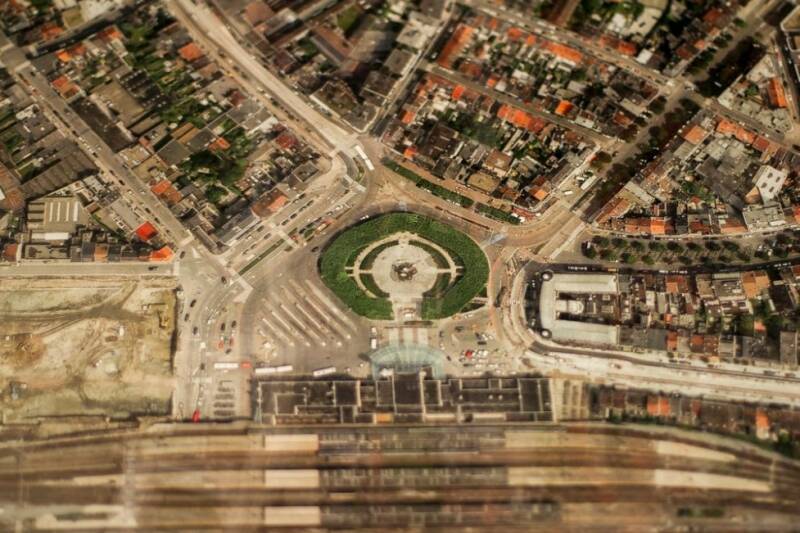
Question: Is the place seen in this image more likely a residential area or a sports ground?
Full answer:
This image shows a residential area.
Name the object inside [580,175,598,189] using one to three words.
vehicle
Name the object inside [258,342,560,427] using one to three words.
train station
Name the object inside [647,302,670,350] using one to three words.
house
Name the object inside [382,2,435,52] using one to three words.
building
